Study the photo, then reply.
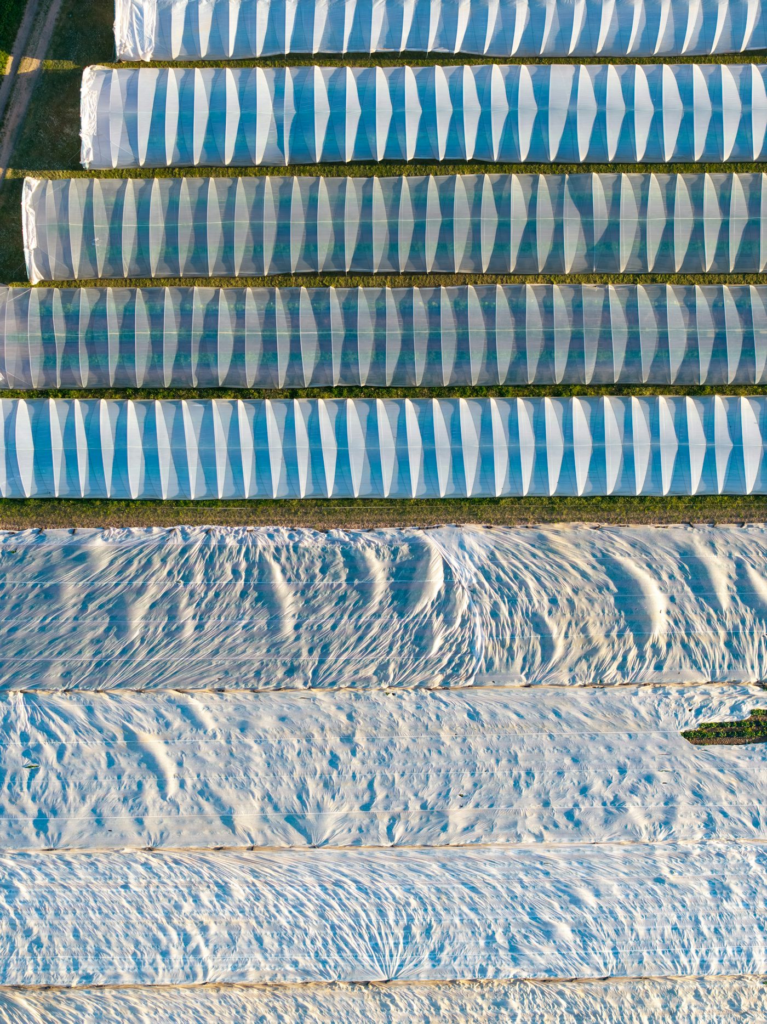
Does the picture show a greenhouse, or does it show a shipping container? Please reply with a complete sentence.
Looking from above, you can make out a greenhouse.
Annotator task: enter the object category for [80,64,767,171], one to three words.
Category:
greenhouse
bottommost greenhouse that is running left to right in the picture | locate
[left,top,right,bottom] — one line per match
[0,395,767,501]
